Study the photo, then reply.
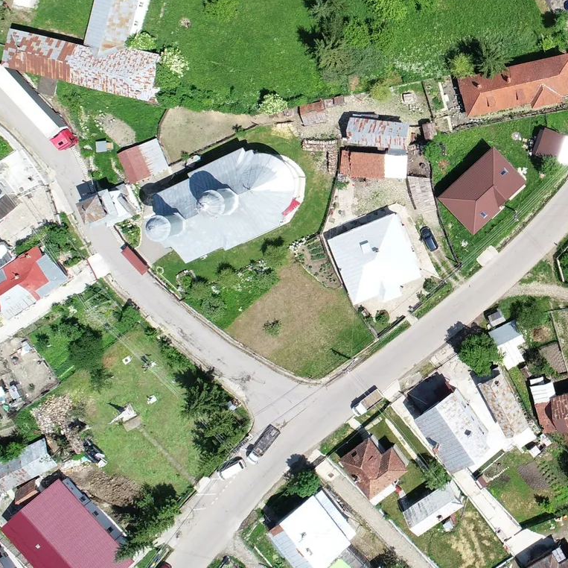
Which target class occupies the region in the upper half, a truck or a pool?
truck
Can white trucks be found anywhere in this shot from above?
Yes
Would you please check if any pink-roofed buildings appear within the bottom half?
Yes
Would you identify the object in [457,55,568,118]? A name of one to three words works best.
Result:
house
